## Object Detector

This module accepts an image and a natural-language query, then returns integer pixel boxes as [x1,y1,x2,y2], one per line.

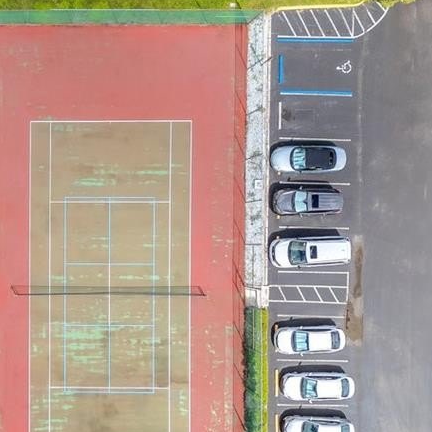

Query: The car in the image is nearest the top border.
[269,141,346,176]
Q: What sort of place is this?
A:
sports ground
